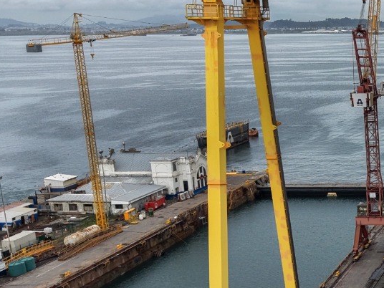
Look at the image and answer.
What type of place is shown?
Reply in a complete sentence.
It's a port.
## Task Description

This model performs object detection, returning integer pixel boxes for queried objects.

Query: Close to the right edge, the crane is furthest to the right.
[349,0,384,259]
